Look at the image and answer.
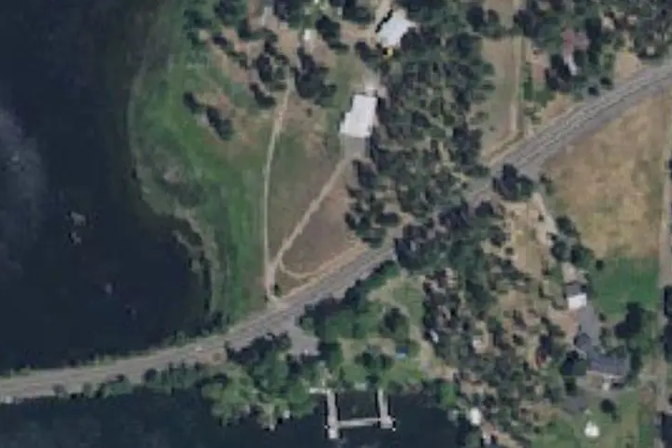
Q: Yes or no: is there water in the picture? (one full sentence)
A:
Yes, water can be seen from above here.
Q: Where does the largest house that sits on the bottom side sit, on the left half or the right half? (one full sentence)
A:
The largest house that sits on the bottom side appears in the right half of the scene.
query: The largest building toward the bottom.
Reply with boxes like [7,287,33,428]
[576,334,630,384]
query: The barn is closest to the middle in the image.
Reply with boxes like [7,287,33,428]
[338,91,380,140]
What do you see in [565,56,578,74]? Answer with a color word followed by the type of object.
white vehicle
